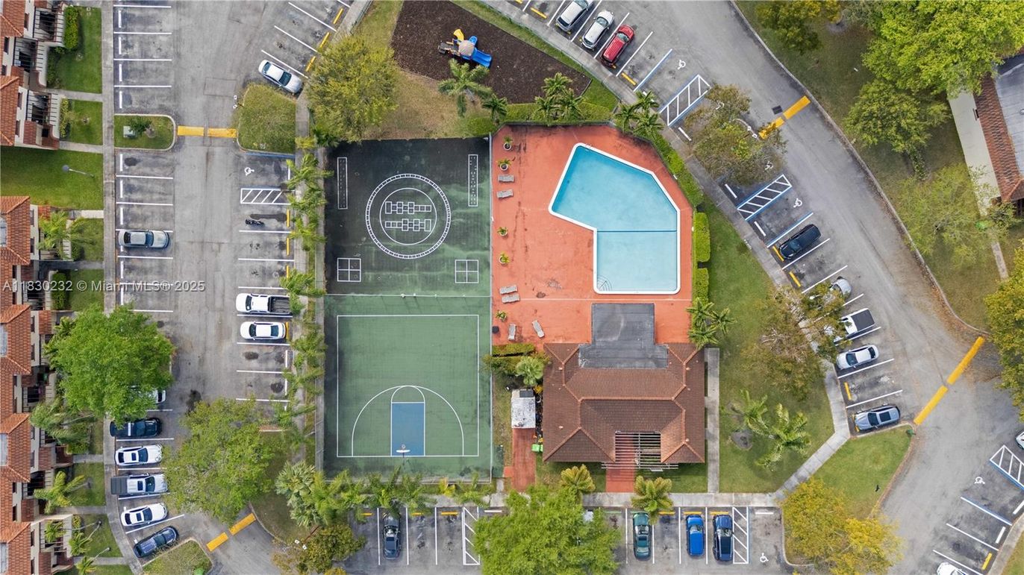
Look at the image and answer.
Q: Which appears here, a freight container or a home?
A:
home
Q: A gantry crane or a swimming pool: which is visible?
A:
swimming pool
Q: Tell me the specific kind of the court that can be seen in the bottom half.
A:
basketball court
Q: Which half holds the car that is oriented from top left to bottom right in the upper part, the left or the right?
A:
left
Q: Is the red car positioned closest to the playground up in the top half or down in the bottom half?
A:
top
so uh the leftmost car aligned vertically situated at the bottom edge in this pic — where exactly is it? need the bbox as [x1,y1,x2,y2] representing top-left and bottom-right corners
[380,510,402,559]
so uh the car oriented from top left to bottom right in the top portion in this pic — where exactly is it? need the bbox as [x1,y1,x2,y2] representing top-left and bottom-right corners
[258,58,305,95]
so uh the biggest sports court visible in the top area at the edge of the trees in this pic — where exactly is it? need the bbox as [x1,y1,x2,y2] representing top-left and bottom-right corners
[324,138,491,295]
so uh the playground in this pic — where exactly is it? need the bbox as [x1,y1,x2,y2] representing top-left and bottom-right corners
[438,27,493,67]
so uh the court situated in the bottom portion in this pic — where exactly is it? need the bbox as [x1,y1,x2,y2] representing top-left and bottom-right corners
[323,295,491,479]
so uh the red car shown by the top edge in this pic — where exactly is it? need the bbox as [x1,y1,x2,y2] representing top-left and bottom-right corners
[600,22,637,69]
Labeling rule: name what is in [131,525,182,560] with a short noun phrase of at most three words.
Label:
car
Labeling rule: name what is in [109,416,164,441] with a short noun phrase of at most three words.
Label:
truck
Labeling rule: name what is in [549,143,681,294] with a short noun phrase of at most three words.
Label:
swimming pool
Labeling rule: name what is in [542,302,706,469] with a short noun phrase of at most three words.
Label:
building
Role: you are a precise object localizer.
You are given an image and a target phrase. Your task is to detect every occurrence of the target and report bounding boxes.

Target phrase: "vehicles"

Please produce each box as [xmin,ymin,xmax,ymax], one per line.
[630,510,653,559]
[775,223,823,261]
[554,0,595,37]
[121,501,170,526]
[581,9,615,51]
[236,292,292,316]
[131,525,182,560]
[833,342,880,370]
[710,512,734,561]
[258,58,305,95]
[851,404,901,432]
[115,444,165,467]
[817,309,876,346]
[810,274,855,307]
[600,22,637,69]
[119,227,171,250]
[933,560,967,575]
[241,320,288,342]
[685,513,706,556]
[109,416,164,441]
[109,472,171,497]
[243,217,263,225]
[380,510,402,559]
